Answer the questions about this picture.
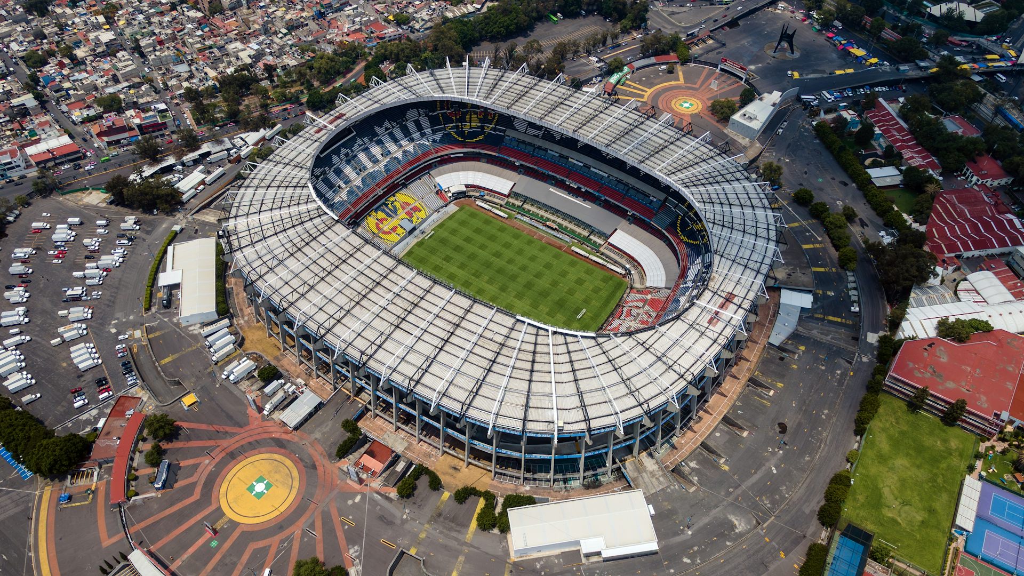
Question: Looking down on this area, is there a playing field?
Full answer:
Yes, you can see a playing field in this photo.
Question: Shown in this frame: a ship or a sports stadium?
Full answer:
Of the two, only a sports stadium appears.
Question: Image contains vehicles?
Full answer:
Yes, there's a vehicle here.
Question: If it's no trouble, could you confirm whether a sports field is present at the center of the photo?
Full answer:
Yes, looking at the center of the photo, one can make out a sports field.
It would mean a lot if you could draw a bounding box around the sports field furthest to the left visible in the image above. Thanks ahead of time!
[400,204,630,335]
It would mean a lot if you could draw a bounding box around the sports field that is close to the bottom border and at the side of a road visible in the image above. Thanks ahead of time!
[840,393,975,576]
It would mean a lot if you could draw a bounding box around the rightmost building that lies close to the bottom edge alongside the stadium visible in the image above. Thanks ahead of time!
[507,488,657,558]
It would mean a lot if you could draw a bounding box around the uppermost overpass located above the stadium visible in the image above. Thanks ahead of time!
[704,0,775,32]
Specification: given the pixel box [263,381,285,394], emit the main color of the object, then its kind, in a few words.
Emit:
white vehicle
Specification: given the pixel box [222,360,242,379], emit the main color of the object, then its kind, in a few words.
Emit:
white vehicle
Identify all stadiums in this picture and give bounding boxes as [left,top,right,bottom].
[215,55,786,484]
